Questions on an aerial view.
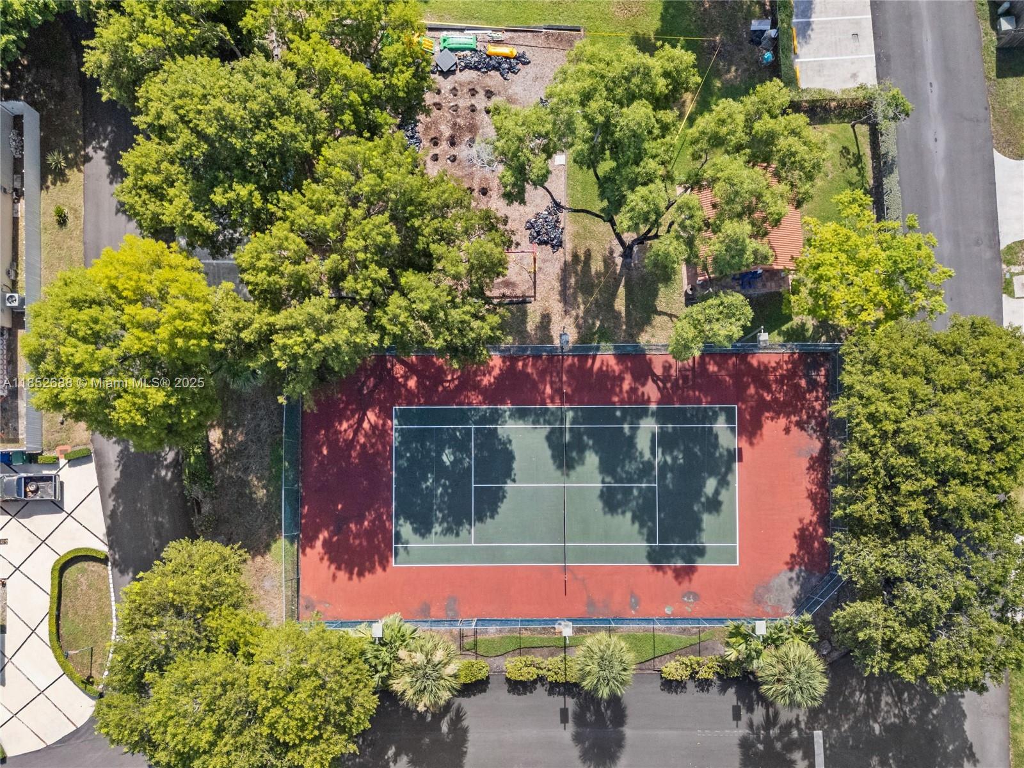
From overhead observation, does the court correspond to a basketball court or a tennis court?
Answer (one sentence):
The court is a tennis court.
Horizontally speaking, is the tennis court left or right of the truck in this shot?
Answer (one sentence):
It is on the right side of the truck that the tennis court is positioned.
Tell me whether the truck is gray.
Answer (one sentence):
Yes, gray is the color of the truck.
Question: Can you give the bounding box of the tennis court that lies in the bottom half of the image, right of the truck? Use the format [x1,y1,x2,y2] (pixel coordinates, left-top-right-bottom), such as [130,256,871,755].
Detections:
[299,353,831,619]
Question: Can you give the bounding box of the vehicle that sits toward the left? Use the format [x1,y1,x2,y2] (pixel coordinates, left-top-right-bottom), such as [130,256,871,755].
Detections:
[0,472,68,505]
